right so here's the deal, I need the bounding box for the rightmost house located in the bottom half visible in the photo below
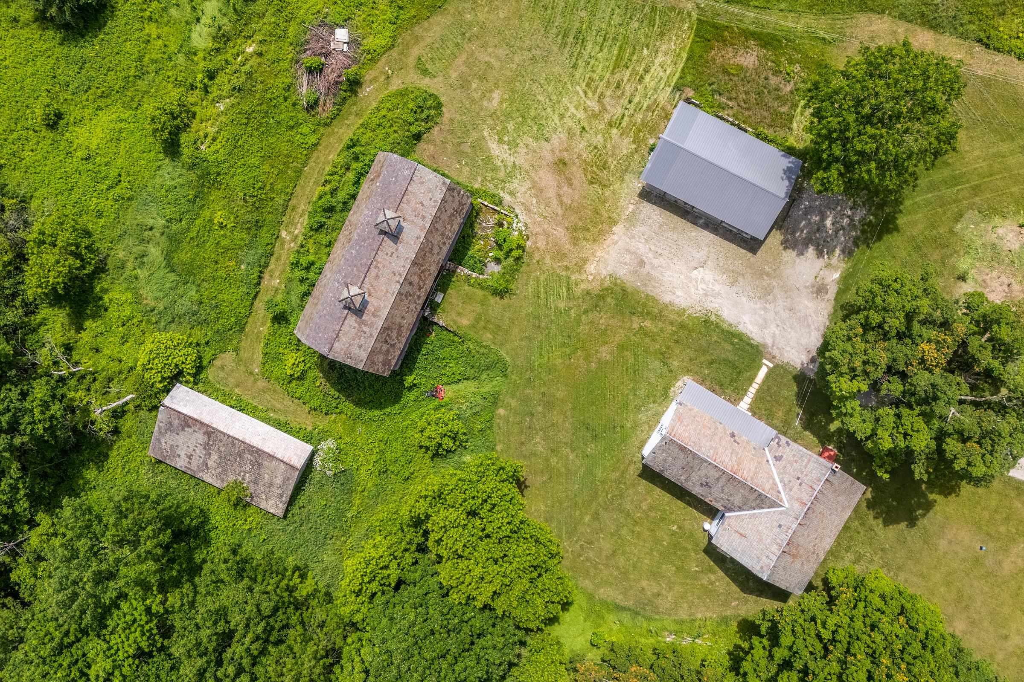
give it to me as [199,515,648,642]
[640,379,864,595]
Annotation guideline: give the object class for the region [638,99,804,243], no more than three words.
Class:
shed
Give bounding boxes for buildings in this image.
[151,384,318,517]
[295,154,473,376]
[640,379,864,595]
[638,99,804,243]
